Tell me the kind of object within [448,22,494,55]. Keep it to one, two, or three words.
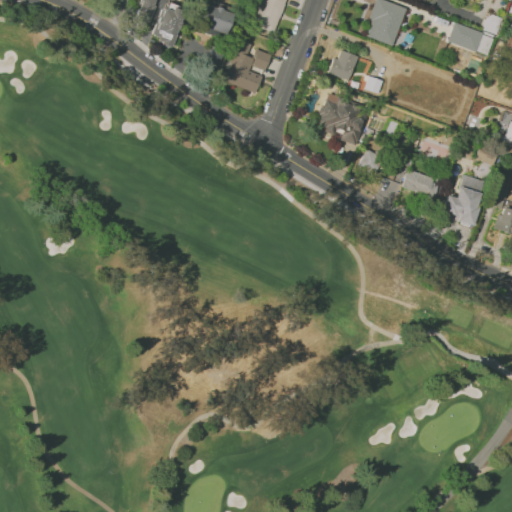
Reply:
house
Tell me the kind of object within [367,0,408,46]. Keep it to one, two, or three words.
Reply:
house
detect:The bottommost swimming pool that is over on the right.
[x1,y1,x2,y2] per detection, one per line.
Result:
[307,93,320,114]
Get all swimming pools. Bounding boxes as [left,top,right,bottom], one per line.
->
[404,32,414,44]
[307,93,320,114]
